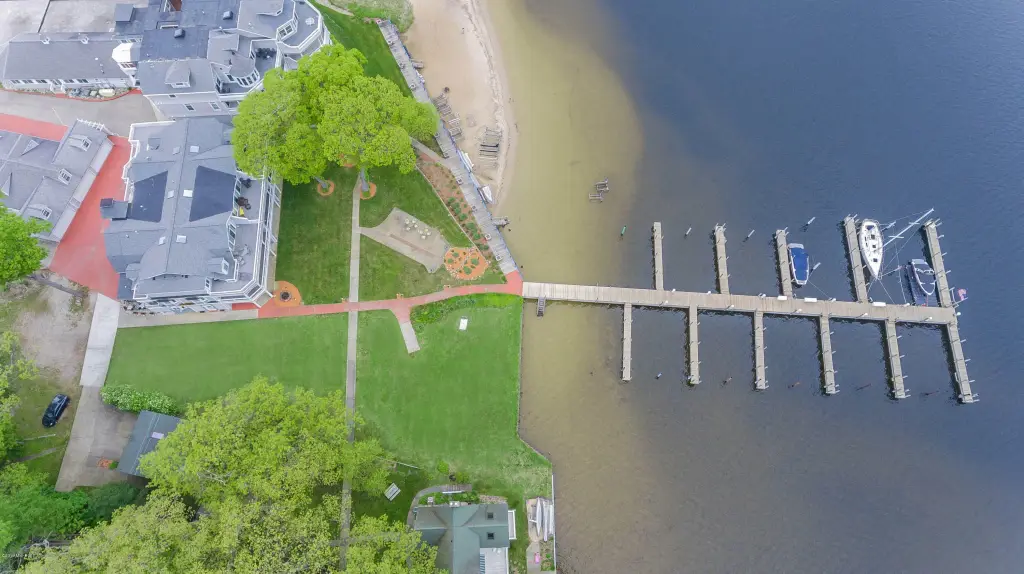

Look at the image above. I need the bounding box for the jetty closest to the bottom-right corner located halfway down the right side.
[524,215,982,402]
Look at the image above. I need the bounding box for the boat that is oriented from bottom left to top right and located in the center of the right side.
[860,206,932,279]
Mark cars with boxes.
[40,392,71,429]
